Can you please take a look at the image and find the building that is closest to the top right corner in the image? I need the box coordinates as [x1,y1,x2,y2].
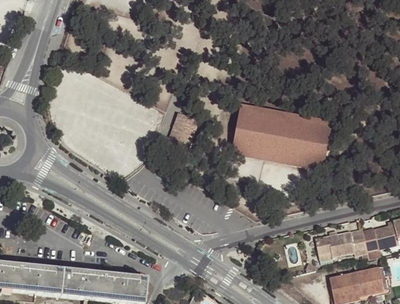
[233,103,331,169]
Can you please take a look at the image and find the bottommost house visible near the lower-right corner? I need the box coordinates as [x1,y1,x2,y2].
[330,266,392,304]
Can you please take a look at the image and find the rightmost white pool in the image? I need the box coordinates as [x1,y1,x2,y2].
[386,258,400,286]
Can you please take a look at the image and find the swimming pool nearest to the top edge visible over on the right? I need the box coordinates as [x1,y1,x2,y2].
[286,242,302,268]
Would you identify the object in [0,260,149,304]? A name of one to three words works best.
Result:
building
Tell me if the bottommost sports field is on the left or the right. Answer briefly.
left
